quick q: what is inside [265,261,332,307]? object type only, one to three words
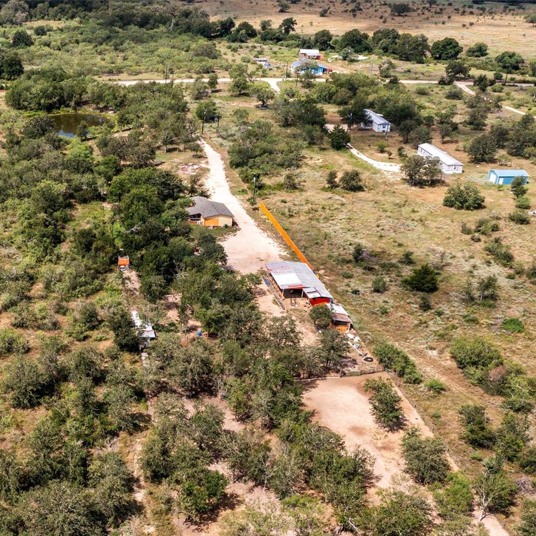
barn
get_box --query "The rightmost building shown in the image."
[488,170,531,184]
